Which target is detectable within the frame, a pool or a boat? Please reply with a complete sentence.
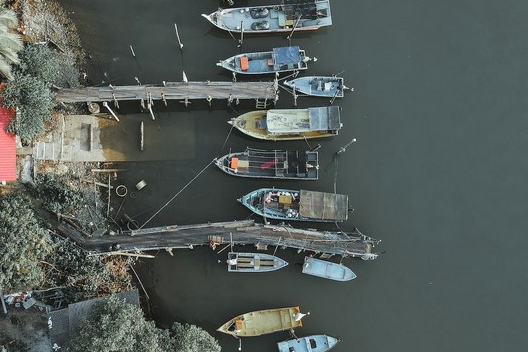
The one in the frame is a boat.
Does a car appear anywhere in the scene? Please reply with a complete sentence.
No, the frame has no car in it.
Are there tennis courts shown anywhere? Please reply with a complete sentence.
No, I find no tennis court anywhere in the image.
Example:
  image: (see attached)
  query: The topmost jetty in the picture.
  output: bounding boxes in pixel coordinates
[56,78,279,113]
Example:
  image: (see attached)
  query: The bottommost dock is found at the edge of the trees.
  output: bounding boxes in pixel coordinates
[59,217,386,259]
